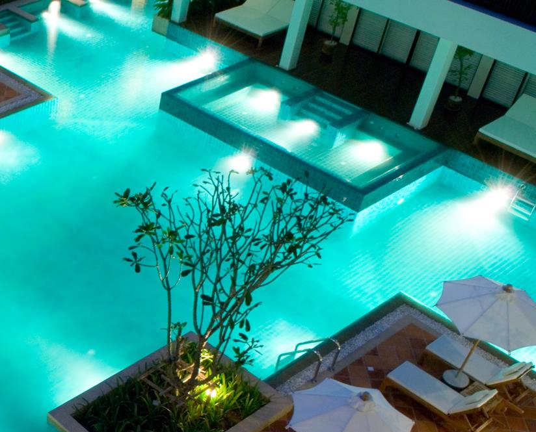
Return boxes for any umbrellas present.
[429,275,536,390]
[281,375,421,432]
